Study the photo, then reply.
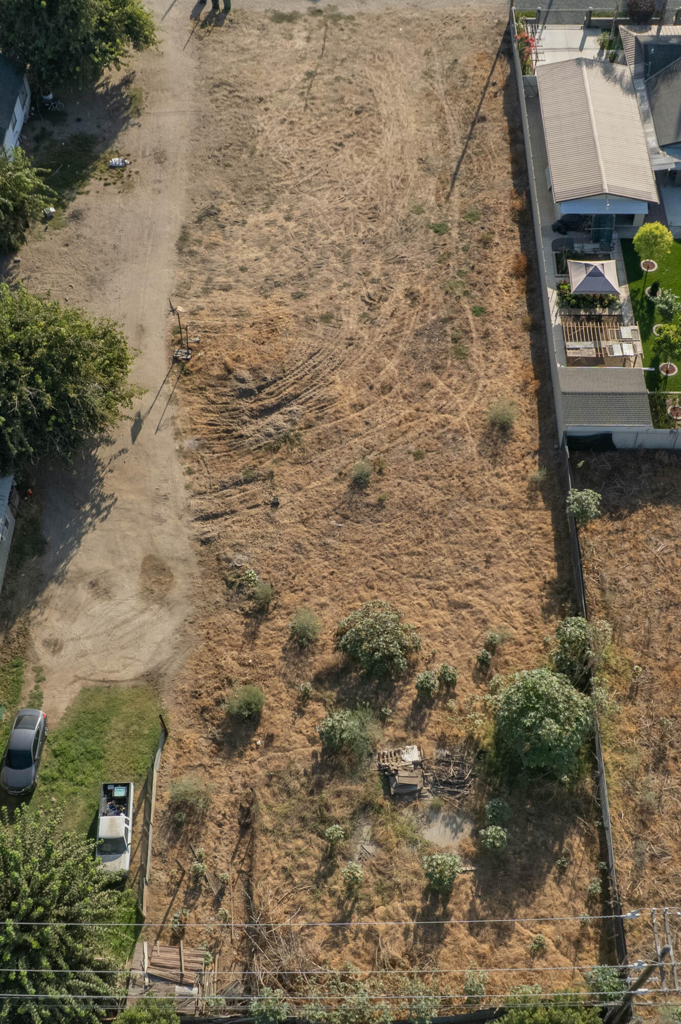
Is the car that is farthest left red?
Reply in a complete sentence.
No, the color of the car that is farthest left is gray.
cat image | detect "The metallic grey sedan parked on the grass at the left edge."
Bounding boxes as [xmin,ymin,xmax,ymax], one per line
[0,710,50,799]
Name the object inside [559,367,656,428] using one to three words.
shed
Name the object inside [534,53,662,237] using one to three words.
building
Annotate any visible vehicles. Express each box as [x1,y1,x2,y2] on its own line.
[91,783,137,886]
[0,710,50,799]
